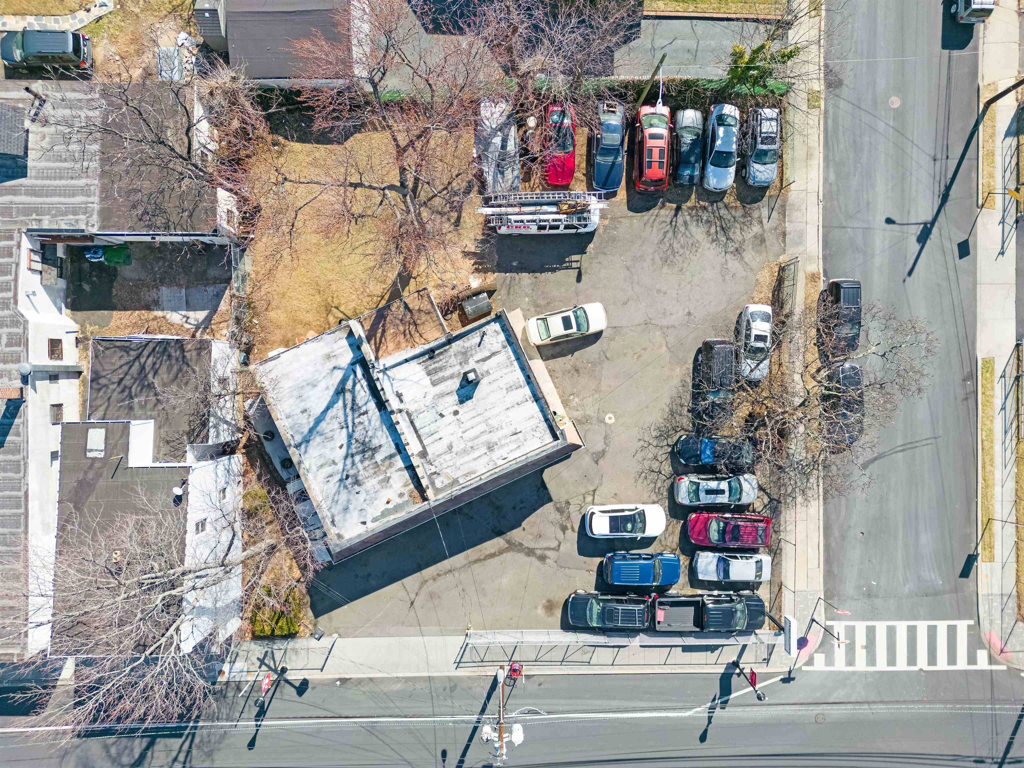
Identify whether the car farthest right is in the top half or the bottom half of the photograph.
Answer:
top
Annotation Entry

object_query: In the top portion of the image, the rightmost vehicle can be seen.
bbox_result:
[945,0,993,24]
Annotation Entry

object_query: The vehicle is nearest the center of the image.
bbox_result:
[525,302,607,347]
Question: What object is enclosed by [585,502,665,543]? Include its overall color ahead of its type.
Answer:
white car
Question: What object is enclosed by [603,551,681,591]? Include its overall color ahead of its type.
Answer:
blue car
